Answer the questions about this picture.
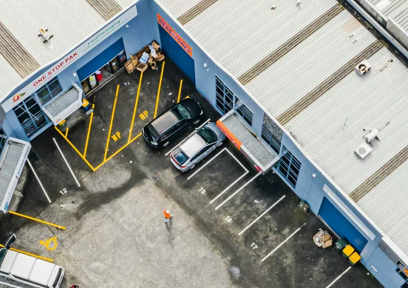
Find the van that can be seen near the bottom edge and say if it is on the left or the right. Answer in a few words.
left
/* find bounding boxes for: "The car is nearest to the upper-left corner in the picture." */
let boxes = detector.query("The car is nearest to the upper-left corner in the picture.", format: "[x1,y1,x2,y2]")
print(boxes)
[142,101,205,151]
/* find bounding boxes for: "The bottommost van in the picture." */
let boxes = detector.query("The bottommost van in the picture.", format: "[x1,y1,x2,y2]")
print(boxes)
[0,236,63,288]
